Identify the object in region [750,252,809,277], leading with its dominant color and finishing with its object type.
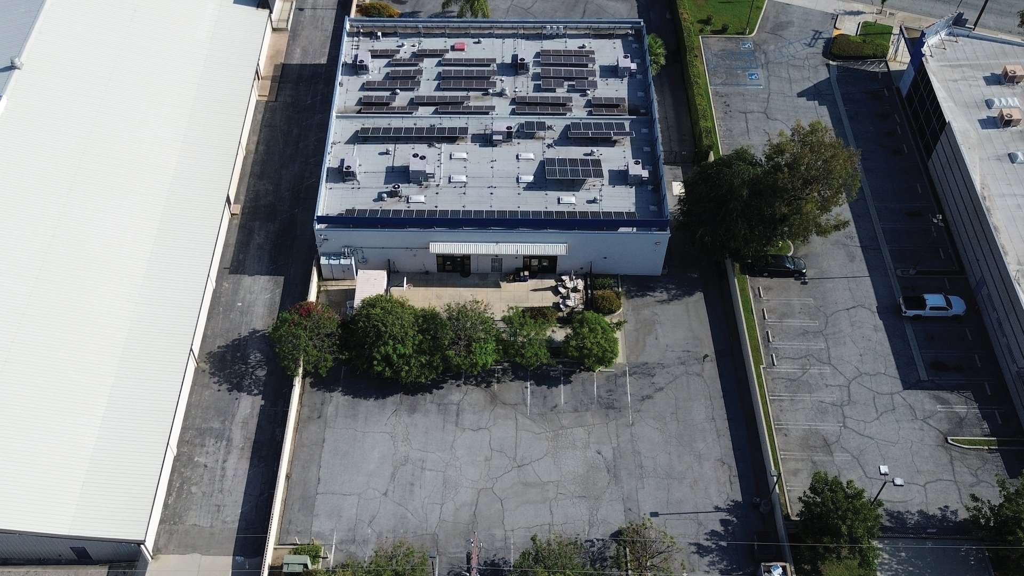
black car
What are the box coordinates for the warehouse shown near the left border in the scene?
[0,0,276,558]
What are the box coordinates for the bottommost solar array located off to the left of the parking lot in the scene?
[345,202,637,228]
